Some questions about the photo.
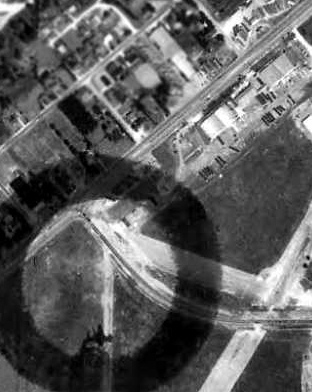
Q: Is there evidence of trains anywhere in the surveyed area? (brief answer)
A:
No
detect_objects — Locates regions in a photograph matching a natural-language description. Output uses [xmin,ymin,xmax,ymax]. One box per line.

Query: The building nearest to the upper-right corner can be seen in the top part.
[260,54,294,86]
